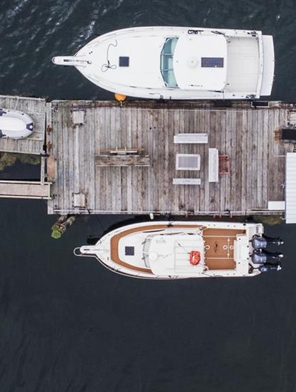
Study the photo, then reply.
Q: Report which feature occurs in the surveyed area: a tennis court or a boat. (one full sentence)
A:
Visible in the photo is a boat.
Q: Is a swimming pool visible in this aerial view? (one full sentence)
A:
No, the picture doesn't show any swimming pool.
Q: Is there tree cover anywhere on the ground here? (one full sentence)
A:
No, the picture contains no tree cover.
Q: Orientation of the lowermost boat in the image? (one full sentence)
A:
The lowermost boat is oriented from side to side.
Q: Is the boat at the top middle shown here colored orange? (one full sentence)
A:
No, from above the boat at the top middle looks white.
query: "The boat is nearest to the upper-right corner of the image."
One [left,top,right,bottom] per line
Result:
[52,26,275,101]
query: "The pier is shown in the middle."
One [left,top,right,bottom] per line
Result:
[42,101,296,217]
